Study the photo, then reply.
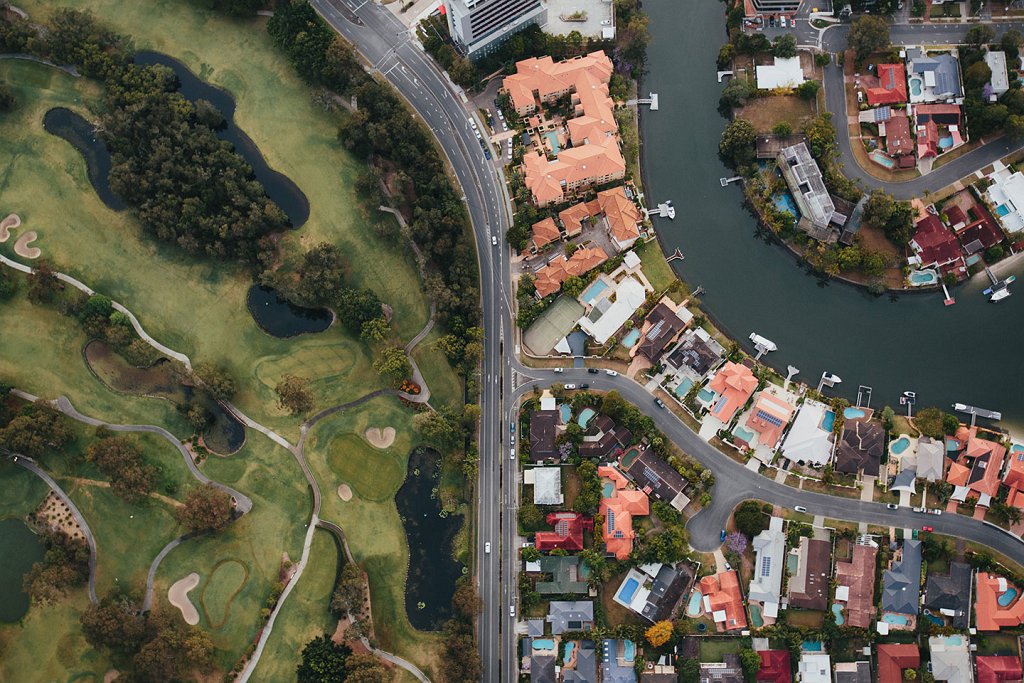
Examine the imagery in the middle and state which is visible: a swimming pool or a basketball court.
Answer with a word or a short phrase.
swimming pool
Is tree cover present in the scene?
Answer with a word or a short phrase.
Yes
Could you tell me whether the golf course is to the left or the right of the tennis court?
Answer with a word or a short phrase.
on its left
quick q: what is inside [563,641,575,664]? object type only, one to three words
swimming pool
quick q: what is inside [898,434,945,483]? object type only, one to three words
house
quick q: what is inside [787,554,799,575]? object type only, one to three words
swimming pool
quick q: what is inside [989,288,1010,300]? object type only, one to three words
boat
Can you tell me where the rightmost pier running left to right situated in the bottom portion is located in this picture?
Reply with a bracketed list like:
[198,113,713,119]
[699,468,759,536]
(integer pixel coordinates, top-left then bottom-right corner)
[953,403,1002,427]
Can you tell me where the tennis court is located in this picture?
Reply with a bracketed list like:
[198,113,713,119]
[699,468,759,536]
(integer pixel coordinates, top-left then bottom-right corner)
[523,293,586,355]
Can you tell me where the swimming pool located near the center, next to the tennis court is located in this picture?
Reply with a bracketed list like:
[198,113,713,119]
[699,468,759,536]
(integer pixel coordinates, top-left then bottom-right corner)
[582,279,608,302]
